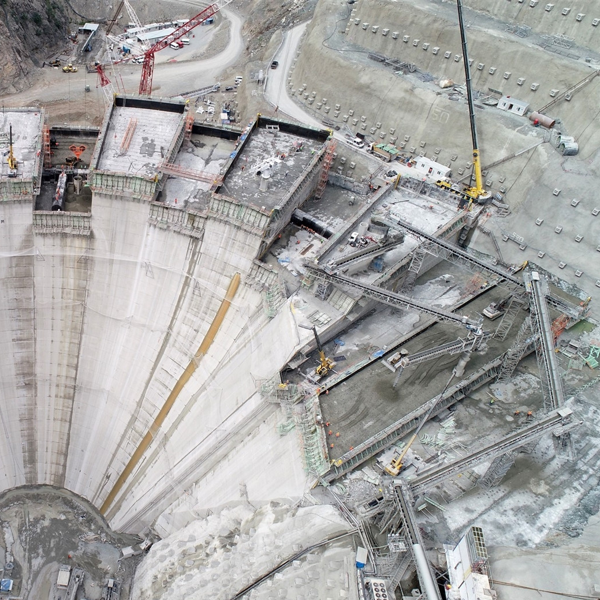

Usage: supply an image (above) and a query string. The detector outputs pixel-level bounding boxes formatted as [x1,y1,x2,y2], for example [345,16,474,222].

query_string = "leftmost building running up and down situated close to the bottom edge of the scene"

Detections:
[54,563,69,591]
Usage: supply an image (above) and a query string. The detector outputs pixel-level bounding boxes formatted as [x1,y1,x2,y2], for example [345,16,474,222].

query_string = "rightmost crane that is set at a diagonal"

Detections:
[378,374,458,475]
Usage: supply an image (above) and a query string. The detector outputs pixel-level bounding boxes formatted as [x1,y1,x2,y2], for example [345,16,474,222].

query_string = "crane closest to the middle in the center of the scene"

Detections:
[303,326,338,379]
